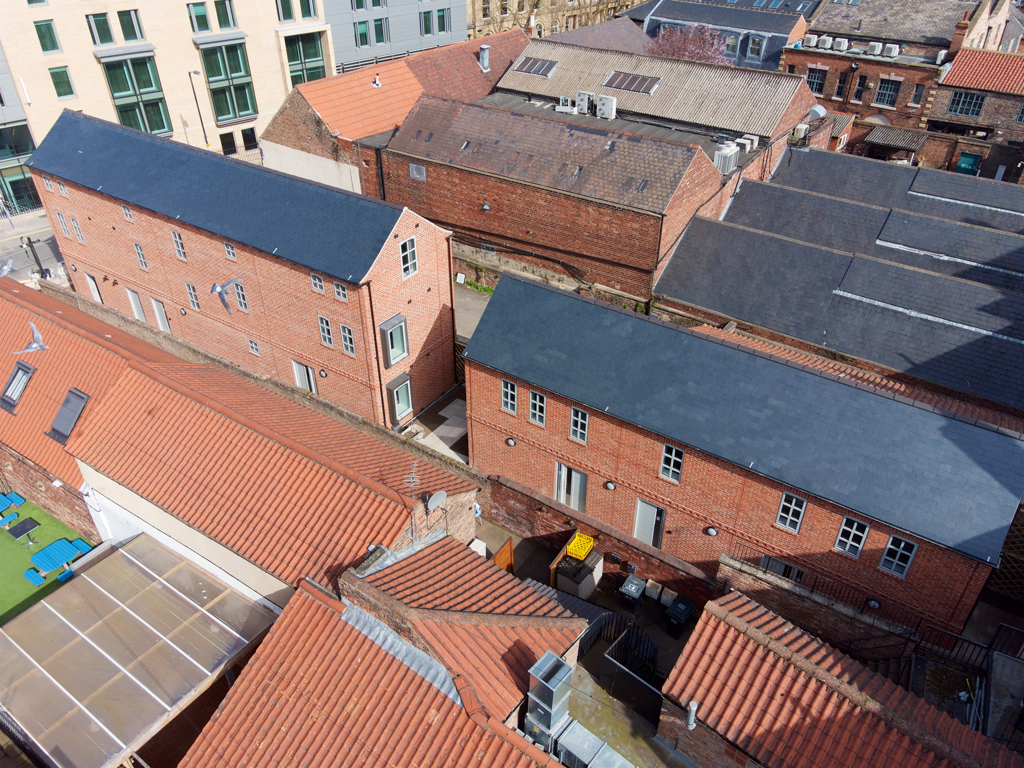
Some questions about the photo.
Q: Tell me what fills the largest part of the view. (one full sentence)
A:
The largest share of the image is taken up by buildings.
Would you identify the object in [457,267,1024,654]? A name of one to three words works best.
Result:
house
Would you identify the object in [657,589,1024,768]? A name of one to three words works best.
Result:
shed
